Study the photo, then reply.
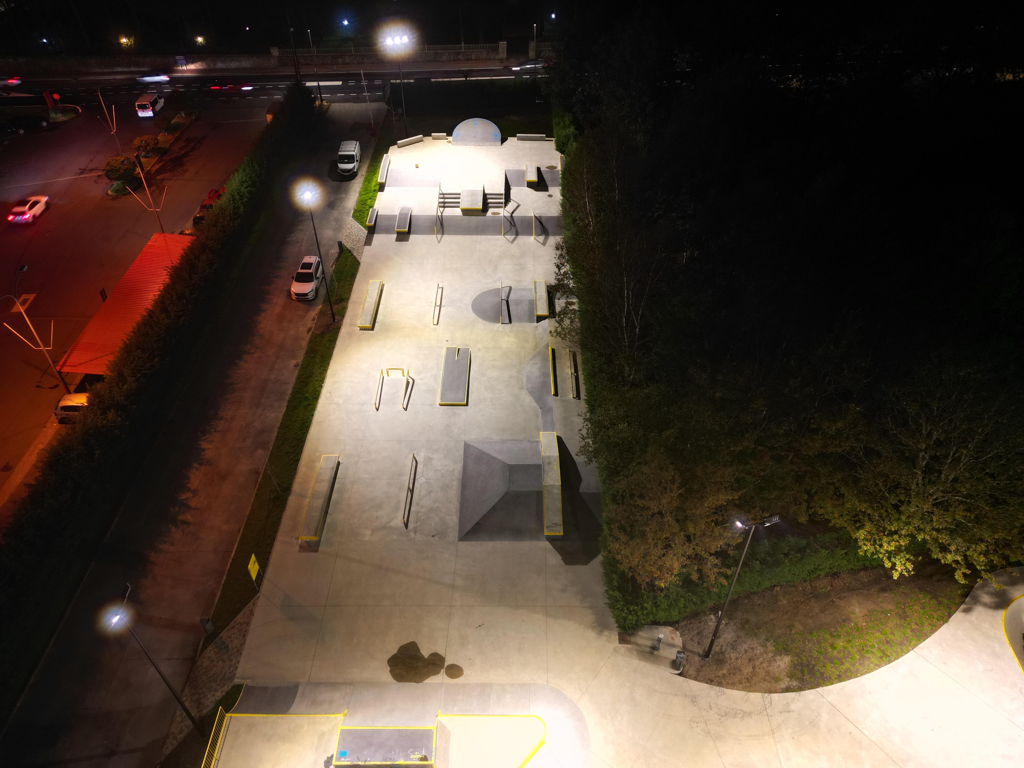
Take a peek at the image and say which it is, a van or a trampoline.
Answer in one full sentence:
Looking from above, you can make out a van.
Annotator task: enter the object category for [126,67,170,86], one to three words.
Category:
car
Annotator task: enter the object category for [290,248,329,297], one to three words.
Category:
car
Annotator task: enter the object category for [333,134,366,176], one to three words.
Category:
van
